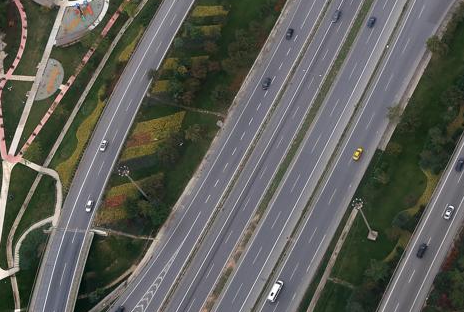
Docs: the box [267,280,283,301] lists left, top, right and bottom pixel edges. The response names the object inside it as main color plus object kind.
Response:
white vehicle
